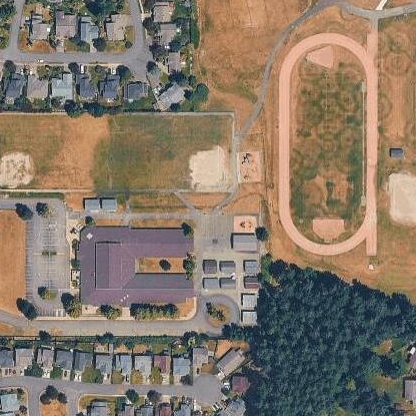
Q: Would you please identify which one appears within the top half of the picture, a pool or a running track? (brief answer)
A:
running track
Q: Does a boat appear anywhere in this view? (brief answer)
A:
No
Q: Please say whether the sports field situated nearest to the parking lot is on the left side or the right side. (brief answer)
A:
left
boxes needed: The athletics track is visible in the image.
[279,32,378,255]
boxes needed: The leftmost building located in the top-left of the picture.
[4,74,25,102]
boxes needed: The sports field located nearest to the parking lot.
[0,112,236,192]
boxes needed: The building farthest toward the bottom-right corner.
[397,379,416,406]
